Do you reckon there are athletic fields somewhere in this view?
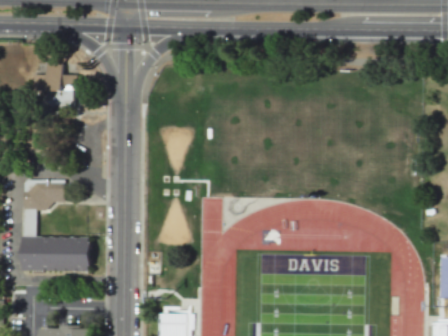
Yes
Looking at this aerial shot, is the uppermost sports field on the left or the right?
right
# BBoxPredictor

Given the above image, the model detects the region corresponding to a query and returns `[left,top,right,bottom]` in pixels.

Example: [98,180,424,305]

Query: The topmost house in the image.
[38,64,78,94]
